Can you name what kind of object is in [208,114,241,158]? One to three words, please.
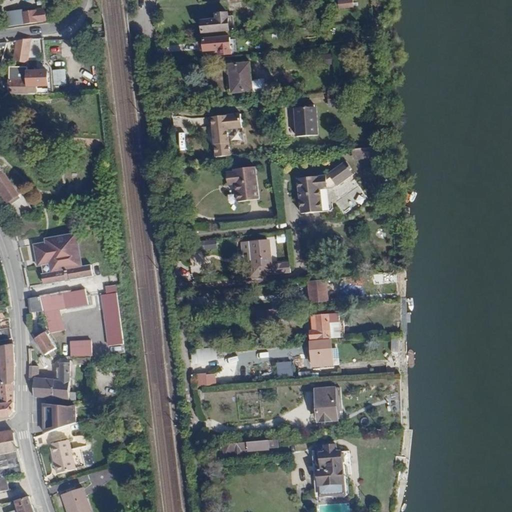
house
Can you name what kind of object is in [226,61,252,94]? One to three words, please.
house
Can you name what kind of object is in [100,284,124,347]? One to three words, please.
building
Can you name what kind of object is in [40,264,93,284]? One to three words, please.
shed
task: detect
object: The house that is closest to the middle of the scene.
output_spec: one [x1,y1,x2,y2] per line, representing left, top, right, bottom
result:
[241,238,272,284]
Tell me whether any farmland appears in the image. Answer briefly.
No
